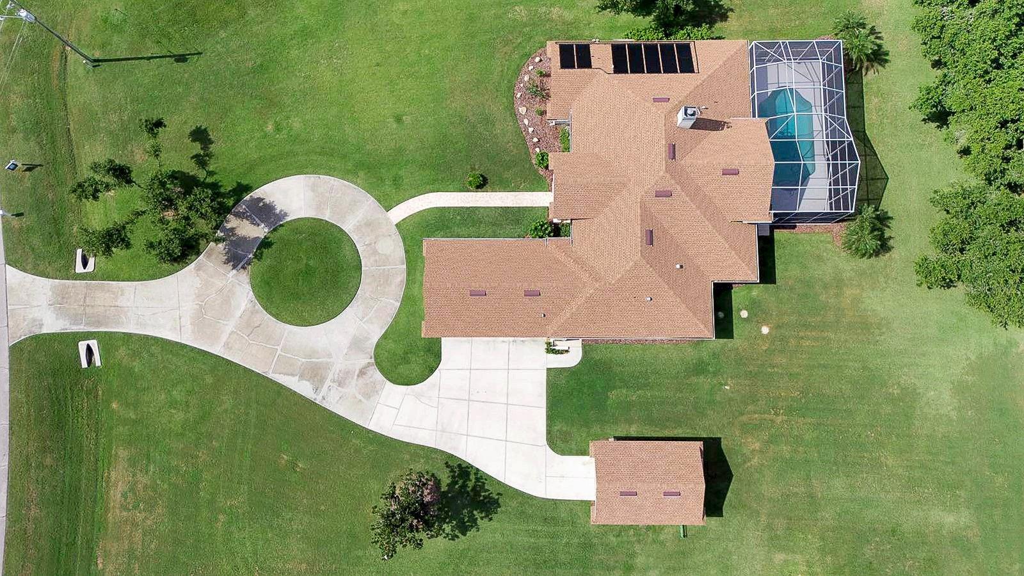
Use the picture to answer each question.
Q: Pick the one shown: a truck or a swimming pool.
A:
swimming pool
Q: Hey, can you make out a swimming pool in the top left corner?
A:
No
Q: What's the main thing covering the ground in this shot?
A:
grass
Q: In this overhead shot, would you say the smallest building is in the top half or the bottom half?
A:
bottom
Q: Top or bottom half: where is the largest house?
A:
top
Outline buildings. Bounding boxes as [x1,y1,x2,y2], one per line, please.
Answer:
[421,39,776,341]
[589,437,708,524]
